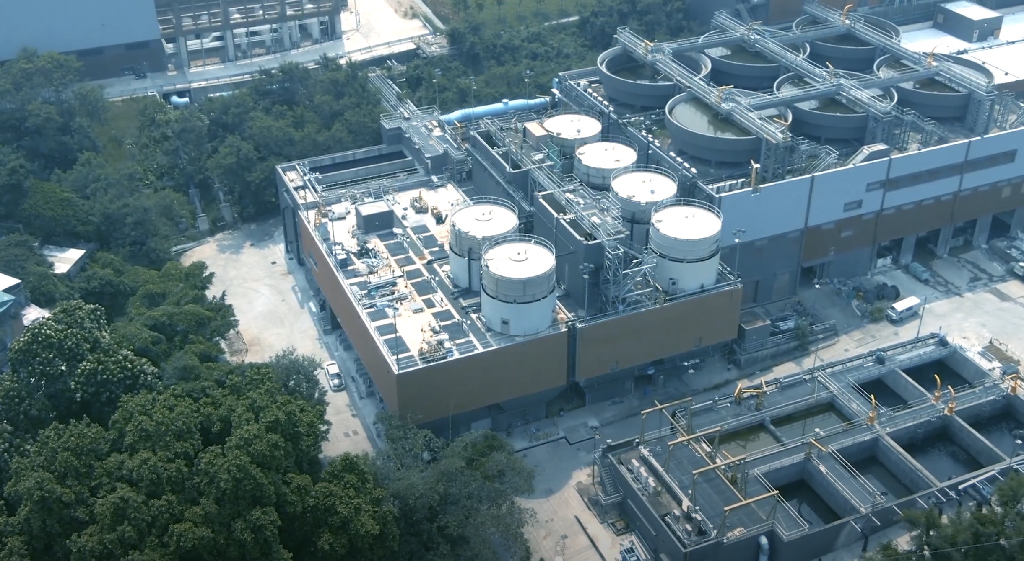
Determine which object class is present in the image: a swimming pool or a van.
van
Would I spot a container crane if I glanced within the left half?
No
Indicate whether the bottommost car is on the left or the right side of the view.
left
